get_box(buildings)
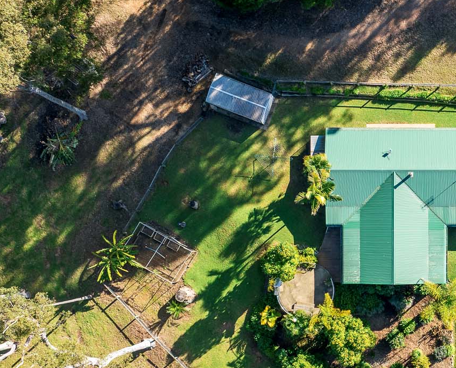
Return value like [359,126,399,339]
[204,73,277,126]
[325,126,456,285]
